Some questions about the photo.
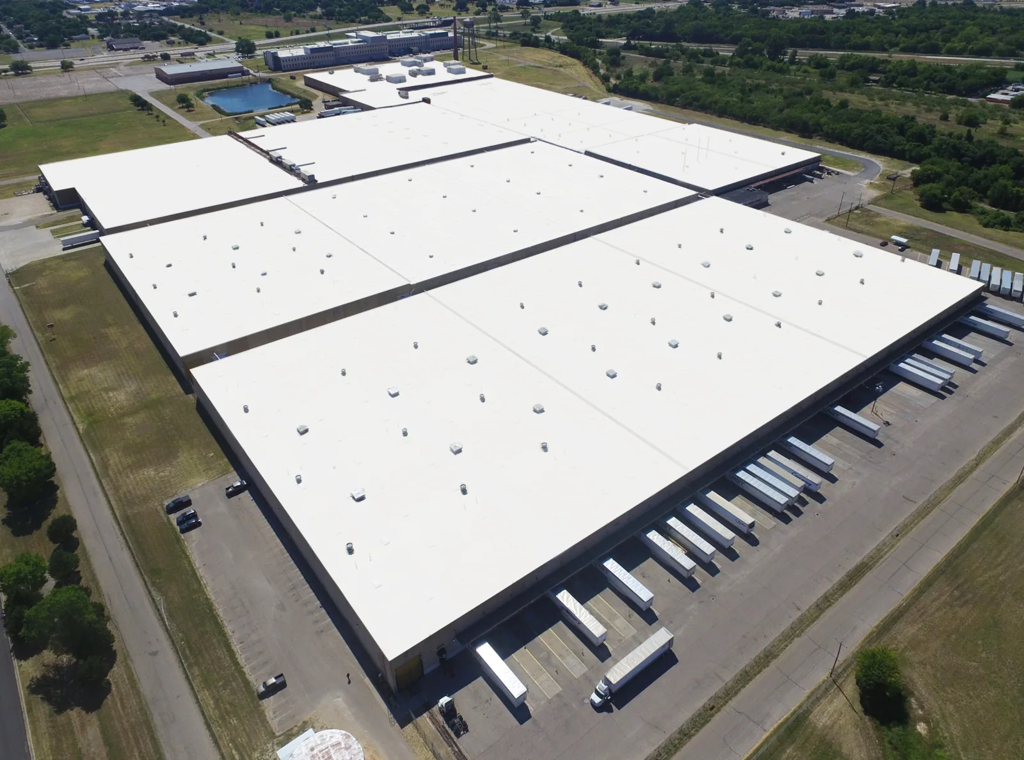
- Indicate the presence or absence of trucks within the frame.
Yes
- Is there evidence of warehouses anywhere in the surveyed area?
Yes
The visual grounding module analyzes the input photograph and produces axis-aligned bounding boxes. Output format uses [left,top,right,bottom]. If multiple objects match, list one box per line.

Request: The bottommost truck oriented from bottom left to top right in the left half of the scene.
[255,672,288,699]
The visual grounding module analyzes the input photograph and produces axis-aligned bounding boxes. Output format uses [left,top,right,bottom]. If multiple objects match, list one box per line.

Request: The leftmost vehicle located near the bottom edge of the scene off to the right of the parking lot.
[433,696,470,734]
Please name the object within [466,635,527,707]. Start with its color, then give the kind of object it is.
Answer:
white trailer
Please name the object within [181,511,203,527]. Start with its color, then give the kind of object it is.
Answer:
black car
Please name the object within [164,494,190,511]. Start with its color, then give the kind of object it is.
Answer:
black vehicle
